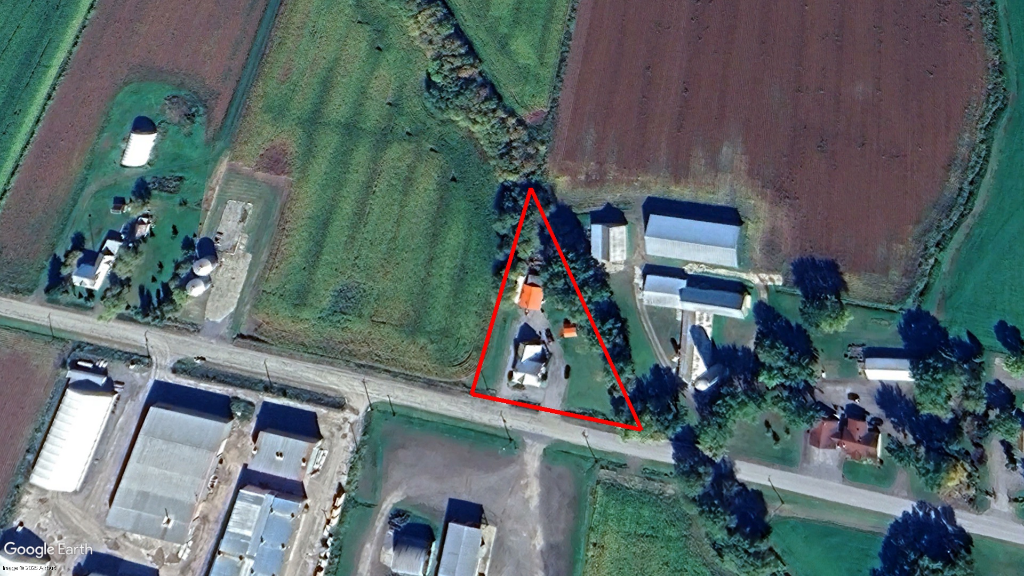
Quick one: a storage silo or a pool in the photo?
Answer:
storage silo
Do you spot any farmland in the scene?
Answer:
Yes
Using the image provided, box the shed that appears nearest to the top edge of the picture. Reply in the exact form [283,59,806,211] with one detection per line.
[123,128,157,170]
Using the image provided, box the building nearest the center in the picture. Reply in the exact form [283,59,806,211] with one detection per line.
[518,273,546,311]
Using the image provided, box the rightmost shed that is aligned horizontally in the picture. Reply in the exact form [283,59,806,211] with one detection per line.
[864,357,918,381]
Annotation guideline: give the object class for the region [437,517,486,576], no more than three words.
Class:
barn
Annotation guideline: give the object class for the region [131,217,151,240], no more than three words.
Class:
building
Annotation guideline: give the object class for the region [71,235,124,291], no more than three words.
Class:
house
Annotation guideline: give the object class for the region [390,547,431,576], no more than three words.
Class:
shed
